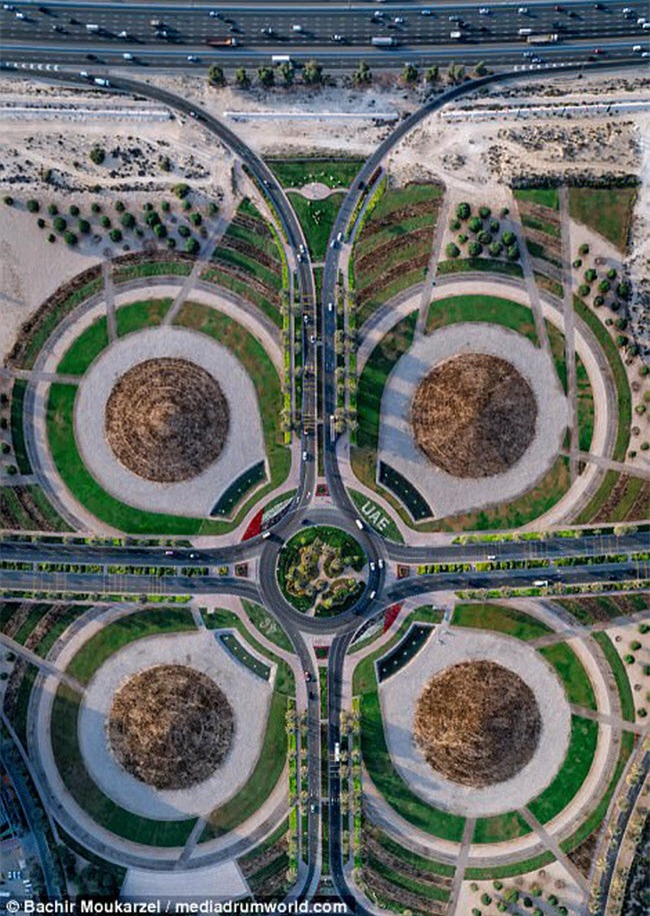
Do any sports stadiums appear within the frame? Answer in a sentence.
No, there's no sports stadium here.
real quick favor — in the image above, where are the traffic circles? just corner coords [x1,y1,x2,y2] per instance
[205,455,445,691]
